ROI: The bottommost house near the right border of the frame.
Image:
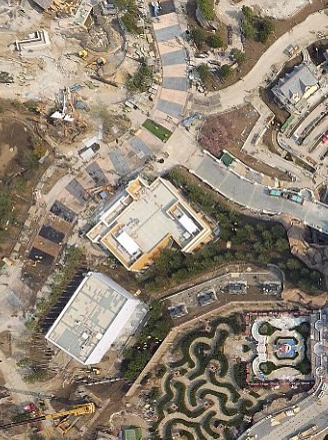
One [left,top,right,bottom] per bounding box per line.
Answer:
[271,64,320,118]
